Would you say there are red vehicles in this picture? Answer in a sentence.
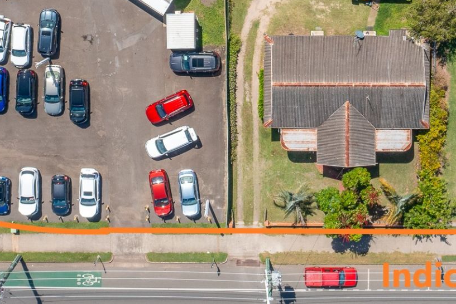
Yes, a red vehicle appears in the view.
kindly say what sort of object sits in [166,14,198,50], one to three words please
shed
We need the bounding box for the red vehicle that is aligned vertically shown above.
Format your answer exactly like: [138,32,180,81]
[149,169,174,217]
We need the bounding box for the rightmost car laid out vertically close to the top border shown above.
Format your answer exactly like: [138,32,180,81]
[37,8,61,57]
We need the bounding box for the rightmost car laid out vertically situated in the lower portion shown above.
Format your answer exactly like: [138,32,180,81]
[178,169,202,219]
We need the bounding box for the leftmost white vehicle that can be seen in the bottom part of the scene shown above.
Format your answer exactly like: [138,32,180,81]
[17,167,41,217]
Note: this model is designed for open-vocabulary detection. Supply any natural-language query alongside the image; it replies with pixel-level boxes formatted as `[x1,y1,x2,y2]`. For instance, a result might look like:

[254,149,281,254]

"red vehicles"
[305,265,357,290]
[149,169,174,217]
[146,90,193,123]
